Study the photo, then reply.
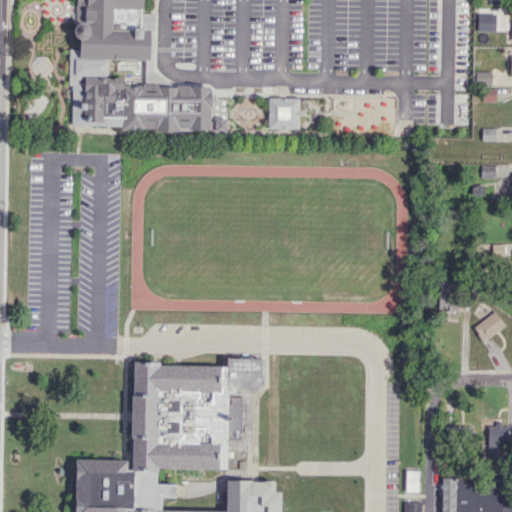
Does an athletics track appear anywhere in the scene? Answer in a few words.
Yes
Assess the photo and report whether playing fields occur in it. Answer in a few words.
Yes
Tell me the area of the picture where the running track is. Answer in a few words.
center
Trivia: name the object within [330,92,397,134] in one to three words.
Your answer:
playground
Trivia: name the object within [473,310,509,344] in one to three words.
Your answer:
house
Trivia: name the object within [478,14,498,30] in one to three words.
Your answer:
building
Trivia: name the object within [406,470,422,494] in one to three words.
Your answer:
building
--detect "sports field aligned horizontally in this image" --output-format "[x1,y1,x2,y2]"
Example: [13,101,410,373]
[144,177,396,302]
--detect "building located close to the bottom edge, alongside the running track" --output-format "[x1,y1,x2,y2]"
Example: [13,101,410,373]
[76,358,284,512]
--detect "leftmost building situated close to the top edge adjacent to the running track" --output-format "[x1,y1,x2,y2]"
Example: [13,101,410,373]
[69,0,229,132]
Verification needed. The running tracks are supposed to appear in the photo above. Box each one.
[131,164,410,314]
